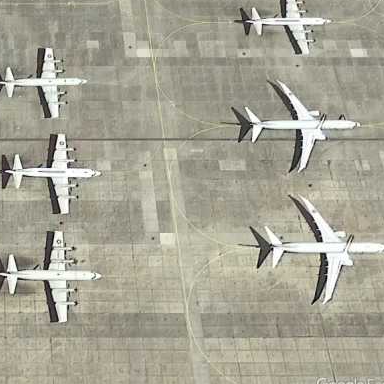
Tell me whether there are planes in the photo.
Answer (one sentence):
Yes, a plane appears in the view.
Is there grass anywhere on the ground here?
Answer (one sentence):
No, the scene doesn't show any grass.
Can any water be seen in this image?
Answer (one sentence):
No, water can't be seen anywhere here.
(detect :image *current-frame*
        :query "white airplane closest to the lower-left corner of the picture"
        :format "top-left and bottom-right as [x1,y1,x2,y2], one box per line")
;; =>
[0,230,101,322]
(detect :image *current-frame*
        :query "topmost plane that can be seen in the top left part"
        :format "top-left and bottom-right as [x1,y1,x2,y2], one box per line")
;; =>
[0,46,87,117]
